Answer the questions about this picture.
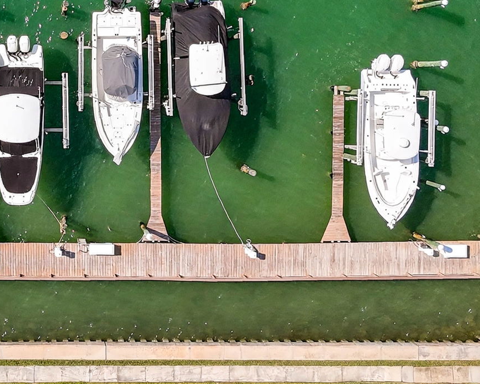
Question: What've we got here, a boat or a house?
boat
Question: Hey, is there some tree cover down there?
No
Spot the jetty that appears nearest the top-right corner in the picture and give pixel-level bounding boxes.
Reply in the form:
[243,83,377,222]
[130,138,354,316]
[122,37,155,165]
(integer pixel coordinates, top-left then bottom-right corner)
[320,94,350,244]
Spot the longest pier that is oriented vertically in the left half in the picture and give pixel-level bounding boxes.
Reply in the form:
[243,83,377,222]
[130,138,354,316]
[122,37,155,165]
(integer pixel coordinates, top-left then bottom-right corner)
[140,17,169,244]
